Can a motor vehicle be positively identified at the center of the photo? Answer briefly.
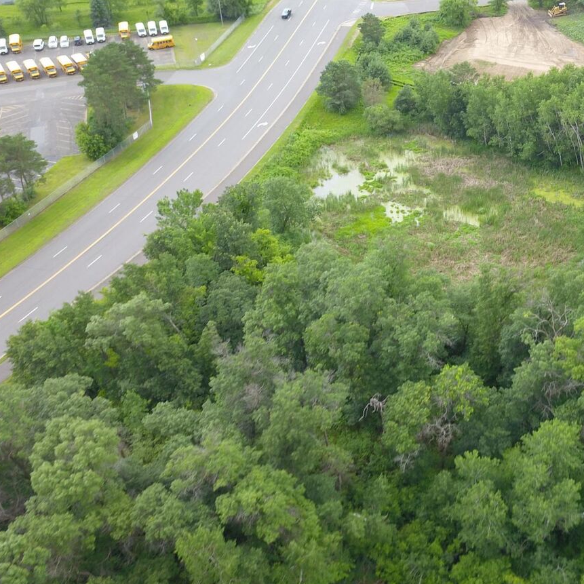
No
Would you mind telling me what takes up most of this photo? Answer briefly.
trees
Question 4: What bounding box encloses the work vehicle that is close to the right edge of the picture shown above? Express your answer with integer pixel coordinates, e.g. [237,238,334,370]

[547,3,568,17]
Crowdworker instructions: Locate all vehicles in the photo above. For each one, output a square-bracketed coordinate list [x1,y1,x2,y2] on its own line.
[22,57,40,77]
[75,36,83,45]
[134,21,147,36]
[55,53,75,74]
[147,36,175,51]
[70,50,88,70]
[279,6,294,17]
[10,34,22,52]
[0,63,8,82]
[94,26,105,40]
[48,36,58,47]
[60,36,70,47]
[119,21,129,37]
[157,19,169,33]
[38,55,57,76]
[0,38,8,53]
[547,3,568,17]
[144,20,157,35]
[5,58,23,79]
[83,29,94,43]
